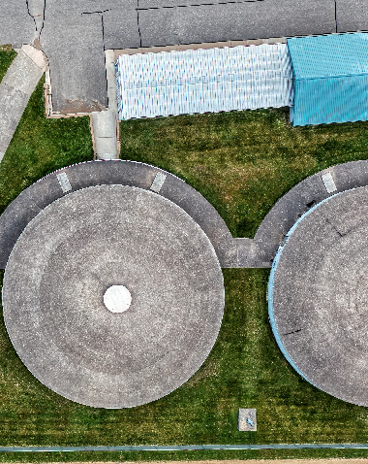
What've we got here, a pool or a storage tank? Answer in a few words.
storage tank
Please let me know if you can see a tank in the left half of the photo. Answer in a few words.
Yes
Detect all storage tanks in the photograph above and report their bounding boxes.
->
[269,187,368,407]
[2,185,225,408]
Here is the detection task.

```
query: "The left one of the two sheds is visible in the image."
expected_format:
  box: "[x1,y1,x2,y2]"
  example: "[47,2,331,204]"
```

[118,43,292,121]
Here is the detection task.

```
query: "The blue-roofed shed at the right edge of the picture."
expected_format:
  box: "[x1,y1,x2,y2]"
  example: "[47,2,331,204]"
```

[283,32,368,126]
